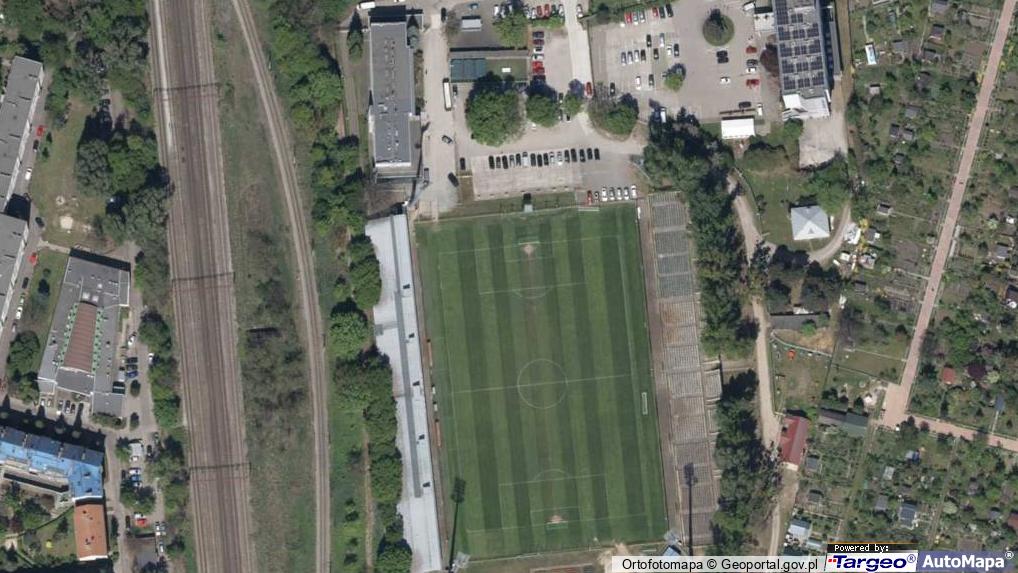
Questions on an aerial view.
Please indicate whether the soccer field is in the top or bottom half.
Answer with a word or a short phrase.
bottom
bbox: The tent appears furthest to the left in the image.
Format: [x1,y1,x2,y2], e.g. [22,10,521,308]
[721,119,755,138]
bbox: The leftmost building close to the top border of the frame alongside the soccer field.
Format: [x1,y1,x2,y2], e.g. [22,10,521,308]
[368,14,423,183]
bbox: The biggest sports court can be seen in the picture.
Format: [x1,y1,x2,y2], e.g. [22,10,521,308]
[486,59,526,83]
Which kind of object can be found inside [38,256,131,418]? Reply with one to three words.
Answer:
building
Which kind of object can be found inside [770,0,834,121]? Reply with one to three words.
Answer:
building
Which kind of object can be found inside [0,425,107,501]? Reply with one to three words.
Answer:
house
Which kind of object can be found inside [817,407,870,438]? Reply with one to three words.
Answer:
house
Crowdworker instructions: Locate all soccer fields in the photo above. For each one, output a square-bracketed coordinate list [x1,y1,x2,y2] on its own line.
[419,203,667,562]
